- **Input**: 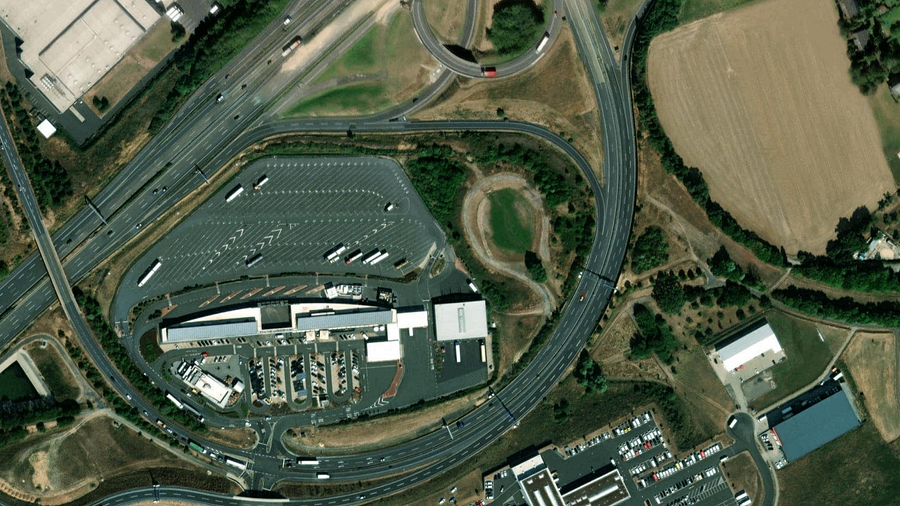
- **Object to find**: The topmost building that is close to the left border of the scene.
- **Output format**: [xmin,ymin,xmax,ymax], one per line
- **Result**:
[0,0,161,112]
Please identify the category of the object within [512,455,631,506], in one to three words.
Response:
building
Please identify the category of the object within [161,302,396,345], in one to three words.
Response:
building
